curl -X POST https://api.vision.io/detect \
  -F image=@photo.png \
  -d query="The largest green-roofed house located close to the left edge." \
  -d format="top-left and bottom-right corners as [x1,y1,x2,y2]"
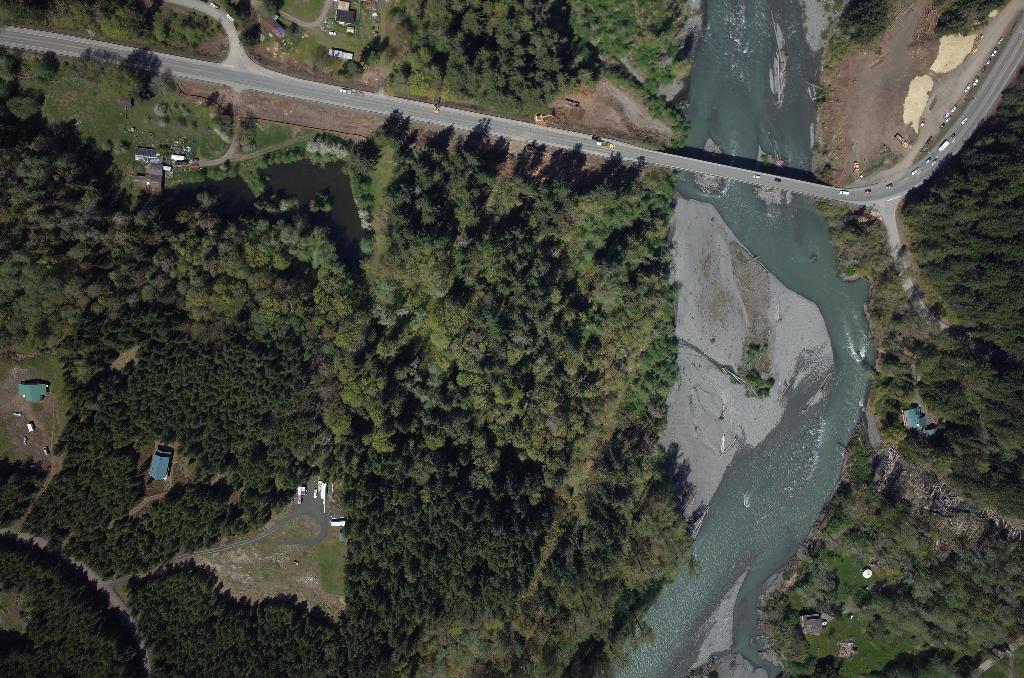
[20,384,49,402]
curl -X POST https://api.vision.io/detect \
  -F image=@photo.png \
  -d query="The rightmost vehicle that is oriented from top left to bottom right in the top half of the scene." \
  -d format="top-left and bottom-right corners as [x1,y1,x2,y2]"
[893,132,909,148]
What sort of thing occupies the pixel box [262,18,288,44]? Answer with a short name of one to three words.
house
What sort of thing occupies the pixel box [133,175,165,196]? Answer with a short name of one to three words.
house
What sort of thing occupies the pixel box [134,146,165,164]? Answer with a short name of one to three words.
barn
